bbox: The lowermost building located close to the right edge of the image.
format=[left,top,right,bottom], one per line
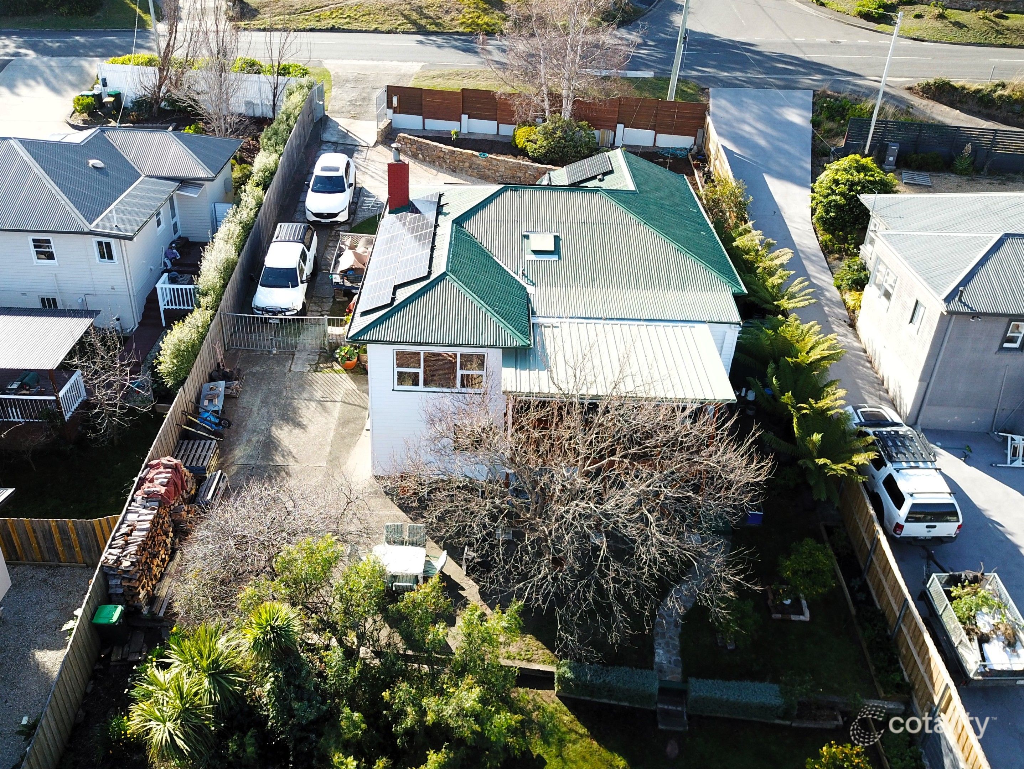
[849,188,1024,426]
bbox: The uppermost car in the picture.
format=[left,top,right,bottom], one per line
[301,153,354,220]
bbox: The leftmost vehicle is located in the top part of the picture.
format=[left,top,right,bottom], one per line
[249,215,317,317]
